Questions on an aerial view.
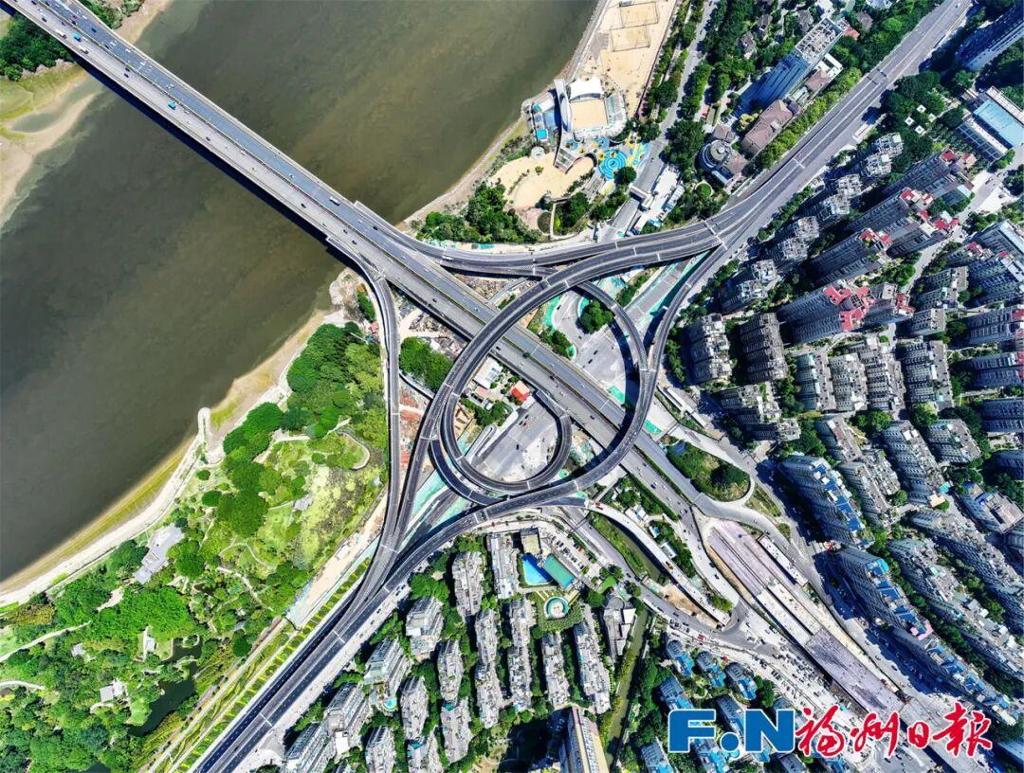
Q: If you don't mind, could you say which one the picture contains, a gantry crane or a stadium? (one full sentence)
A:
I can see a stadium in this picture.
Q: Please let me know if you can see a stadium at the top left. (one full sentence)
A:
No, the scene shows no stadium at the top left.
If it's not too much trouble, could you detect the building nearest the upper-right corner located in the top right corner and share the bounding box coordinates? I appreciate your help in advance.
[962,3,1024,77]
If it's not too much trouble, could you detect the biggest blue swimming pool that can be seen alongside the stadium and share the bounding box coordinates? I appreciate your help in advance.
[545,108,558,128]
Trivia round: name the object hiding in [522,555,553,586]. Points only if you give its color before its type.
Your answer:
blue swimming pool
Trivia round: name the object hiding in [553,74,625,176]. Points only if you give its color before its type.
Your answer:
white stadium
